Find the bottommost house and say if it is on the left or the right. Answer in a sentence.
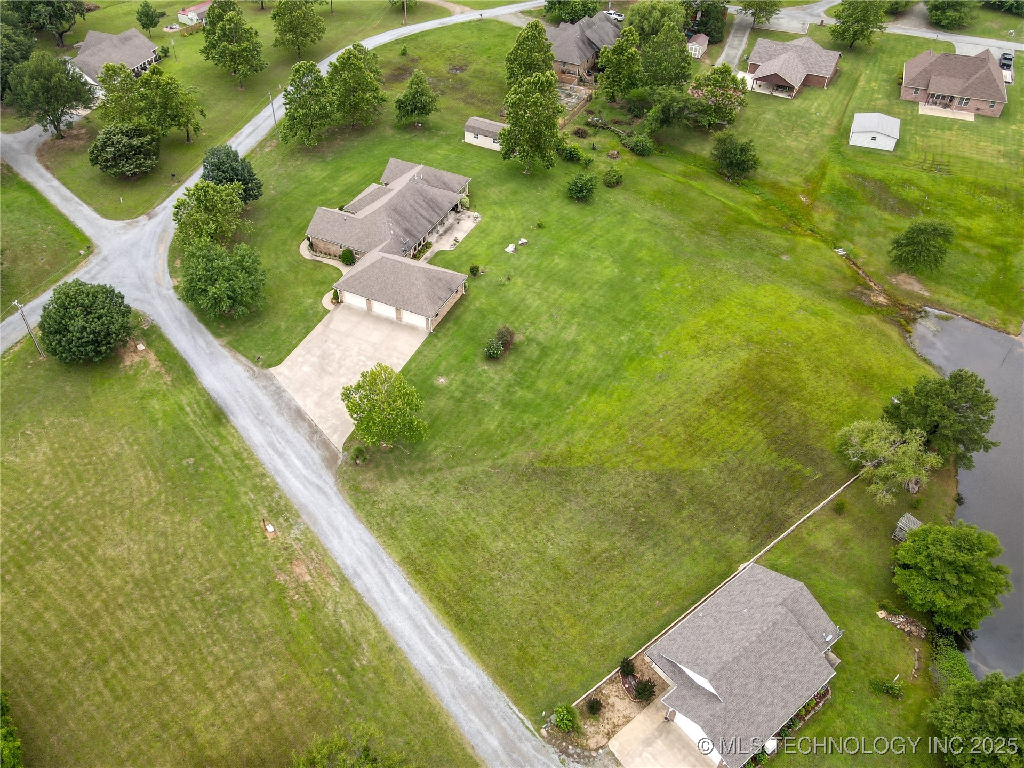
It is on the right.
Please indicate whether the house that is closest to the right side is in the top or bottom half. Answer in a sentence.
The house that is closest to the right side is in the top half of the image.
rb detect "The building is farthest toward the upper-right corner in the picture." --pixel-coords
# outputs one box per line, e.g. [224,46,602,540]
[900,49,1008,118]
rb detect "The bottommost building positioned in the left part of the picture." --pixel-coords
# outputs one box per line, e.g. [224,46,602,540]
[305,157,472,336]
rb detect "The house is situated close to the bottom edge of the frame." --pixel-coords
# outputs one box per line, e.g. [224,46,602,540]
[644,563,841,768]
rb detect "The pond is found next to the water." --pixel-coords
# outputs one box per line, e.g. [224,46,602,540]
[907,308,1024,685]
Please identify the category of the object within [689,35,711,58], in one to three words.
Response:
shed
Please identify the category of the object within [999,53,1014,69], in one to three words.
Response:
vehicle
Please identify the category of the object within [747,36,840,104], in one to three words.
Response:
house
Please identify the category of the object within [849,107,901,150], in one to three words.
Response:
shed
